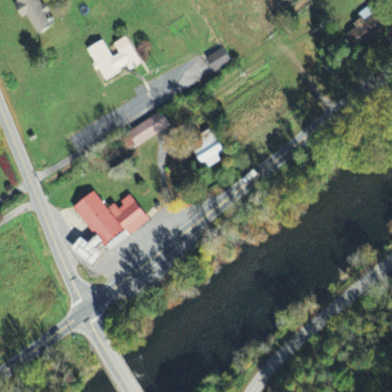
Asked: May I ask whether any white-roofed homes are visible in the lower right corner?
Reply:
No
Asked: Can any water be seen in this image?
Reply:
Yes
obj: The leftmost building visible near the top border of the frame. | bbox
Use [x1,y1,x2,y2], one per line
[16,0,54,34]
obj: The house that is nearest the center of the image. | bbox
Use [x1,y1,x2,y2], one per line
[194,130,221,168]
